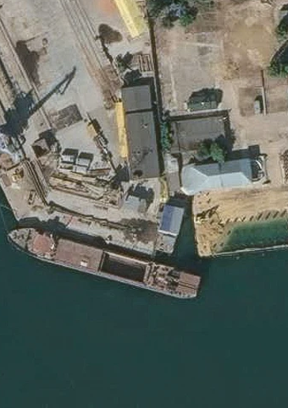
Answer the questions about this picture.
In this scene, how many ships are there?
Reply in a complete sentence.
In total, there is 1 ship in the scene.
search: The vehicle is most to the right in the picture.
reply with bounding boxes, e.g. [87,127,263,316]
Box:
[193,207,217,221]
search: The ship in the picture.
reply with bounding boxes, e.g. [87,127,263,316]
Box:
[7,228,201,298]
